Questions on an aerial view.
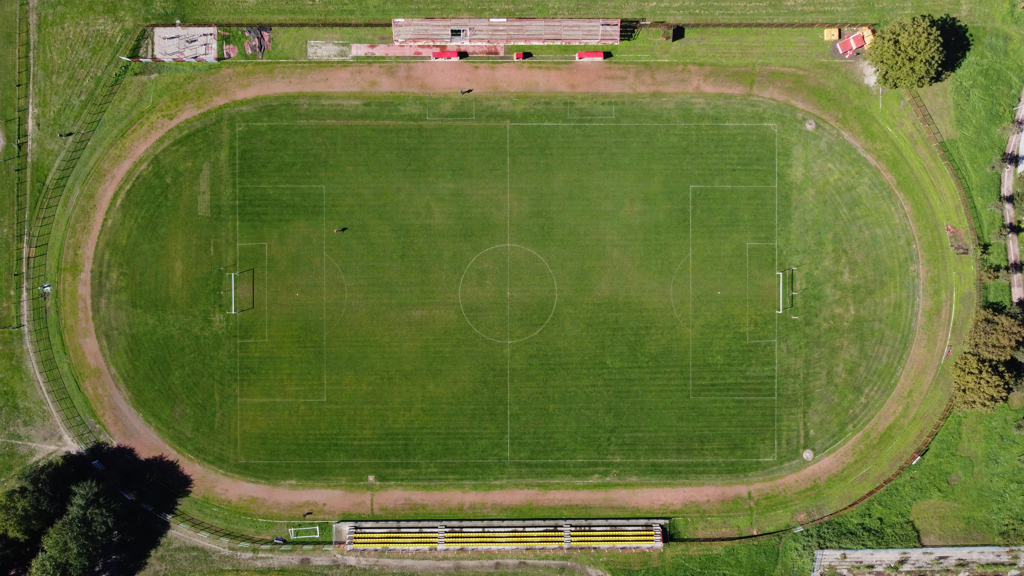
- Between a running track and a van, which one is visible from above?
running track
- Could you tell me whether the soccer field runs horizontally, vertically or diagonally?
horizontally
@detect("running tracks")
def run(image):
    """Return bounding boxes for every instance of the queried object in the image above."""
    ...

[54,60,973,522]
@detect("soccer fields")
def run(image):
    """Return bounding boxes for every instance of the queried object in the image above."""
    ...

[92,99,918,483]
